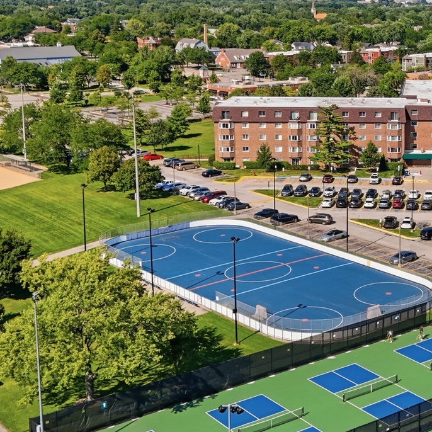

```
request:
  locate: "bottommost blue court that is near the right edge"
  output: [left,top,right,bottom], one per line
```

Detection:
[308,364,428,420]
